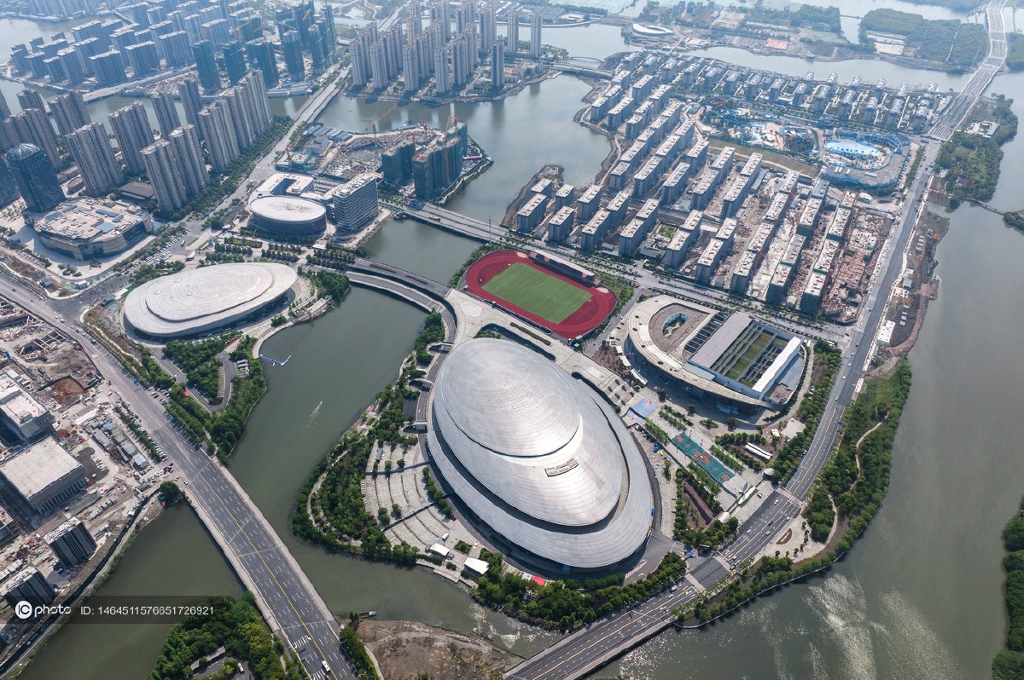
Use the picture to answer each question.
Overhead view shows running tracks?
Yes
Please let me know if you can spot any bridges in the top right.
Yes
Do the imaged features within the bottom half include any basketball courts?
Yes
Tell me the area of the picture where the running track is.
center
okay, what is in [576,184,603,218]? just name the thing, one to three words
building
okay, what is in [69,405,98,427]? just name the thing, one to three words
shed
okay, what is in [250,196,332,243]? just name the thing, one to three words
stadium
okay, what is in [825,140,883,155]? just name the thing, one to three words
swimming pool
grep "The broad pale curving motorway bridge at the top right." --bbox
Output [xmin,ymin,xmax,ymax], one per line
[925,0,1009,141]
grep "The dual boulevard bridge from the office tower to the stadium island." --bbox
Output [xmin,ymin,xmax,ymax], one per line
[388,196,479,239]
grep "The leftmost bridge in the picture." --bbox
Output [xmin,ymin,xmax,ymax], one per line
[84,63,195,104]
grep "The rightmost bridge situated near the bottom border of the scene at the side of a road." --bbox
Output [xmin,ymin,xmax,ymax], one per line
[494,619,665,680]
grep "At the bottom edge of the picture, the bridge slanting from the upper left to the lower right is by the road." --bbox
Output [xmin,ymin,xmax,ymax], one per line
[196,496,376,680]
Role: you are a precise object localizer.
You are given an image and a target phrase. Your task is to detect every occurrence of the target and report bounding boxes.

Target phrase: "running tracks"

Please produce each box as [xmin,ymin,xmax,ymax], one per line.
[463,251,615,335]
